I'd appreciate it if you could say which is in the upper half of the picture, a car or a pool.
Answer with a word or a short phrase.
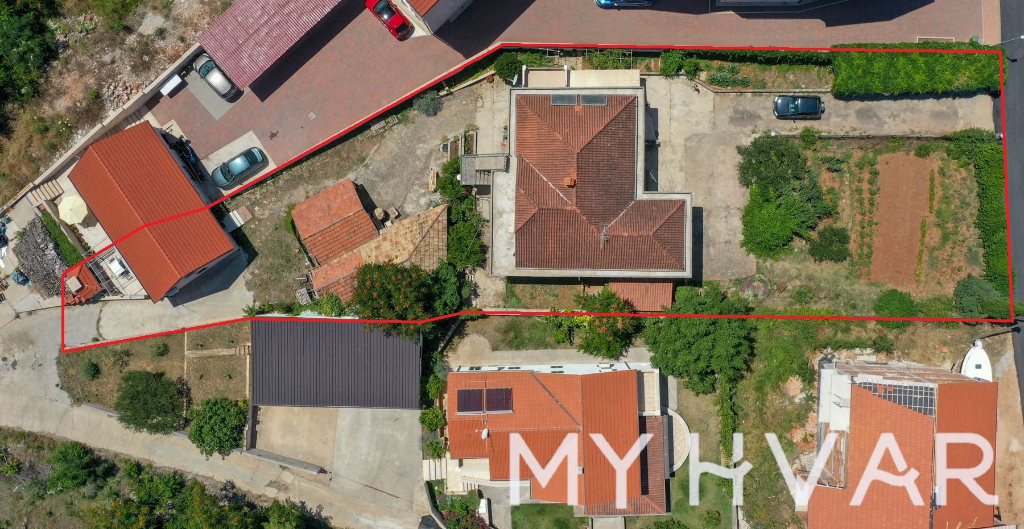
car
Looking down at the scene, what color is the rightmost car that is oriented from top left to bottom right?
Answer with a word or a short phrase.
red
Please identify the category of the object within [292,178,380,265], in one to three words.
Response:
shed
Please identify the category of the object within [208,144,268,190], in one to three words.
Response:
car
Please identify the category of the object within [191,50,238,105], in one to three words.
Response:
car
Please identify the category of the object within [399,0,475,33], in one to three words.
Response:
house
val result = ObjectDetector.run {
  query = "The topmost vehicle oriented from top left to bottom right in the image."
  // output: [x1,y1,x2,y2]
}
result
[364,0,415,42]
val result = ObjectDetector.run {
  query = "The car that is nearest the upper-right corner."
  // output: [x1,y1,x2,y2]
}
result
[774,91,829,119]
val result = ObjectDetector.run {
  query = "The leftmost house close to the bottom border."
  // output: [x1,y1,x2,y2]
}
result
[447,359,669,521]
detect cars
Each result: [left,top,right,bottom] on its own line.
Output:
[191,50,238,105]
[208,144,268,190]
[774,91,829,119]
[596,0,654,8]
[364,0,415,42]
